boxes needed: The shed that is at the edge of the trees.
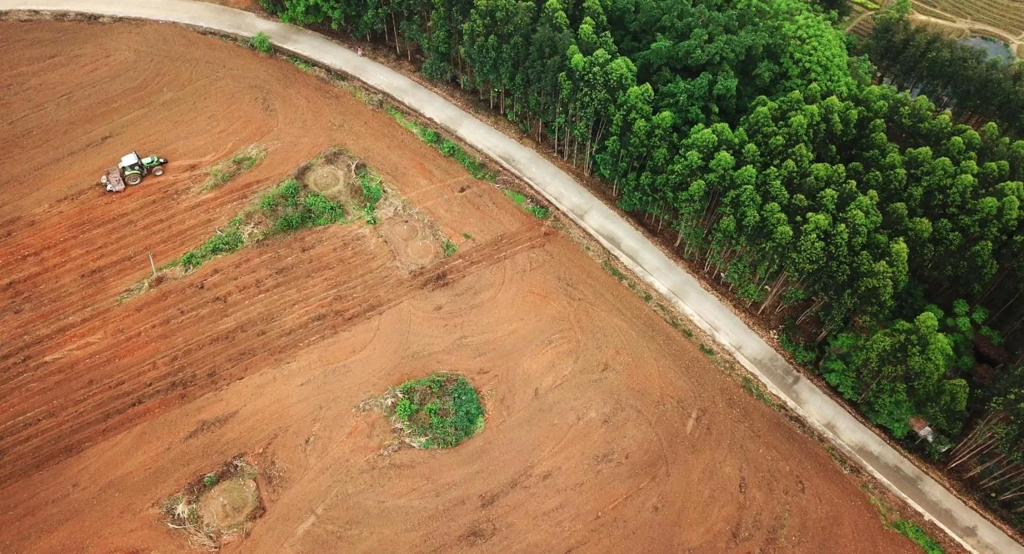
[902,415,938,451]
